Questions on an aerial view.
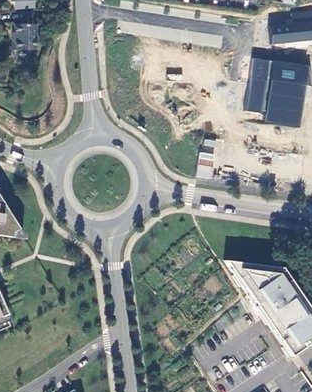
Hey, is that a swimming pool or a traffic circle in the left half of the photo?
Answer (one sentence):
The one visible in the left half of the photo is a traffic circle.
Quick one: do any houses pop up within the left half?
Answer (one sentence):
Yes, the scene does show a house within the left half.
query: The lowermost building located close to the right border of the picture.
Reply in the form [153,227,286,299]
[225,261,312,357]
